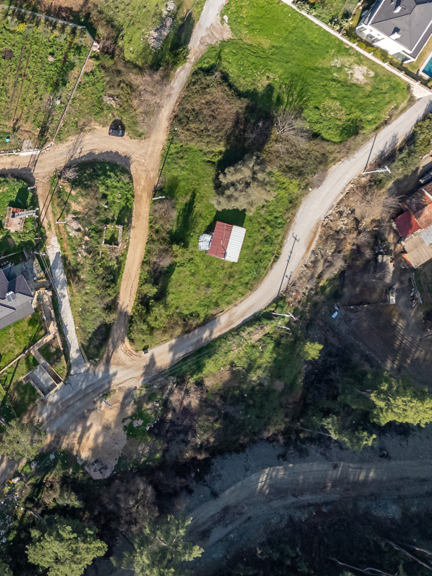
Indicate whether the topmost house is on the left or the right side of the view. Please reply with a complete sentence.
You can find the topmost house on the right side of the picture.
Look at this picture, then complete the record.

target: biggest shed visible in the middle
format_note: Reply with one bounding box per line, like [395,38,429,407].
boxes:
[205,221,247,262]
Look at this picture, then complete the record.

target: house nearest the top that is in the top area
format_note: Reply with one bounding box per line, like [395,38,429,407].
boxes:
[355,0,432,71]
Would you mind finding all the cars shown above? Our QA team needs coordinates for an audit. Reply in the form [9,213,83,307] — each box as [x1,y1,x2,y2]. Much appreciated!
[418,172,432,186]
[109,128,125,137]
